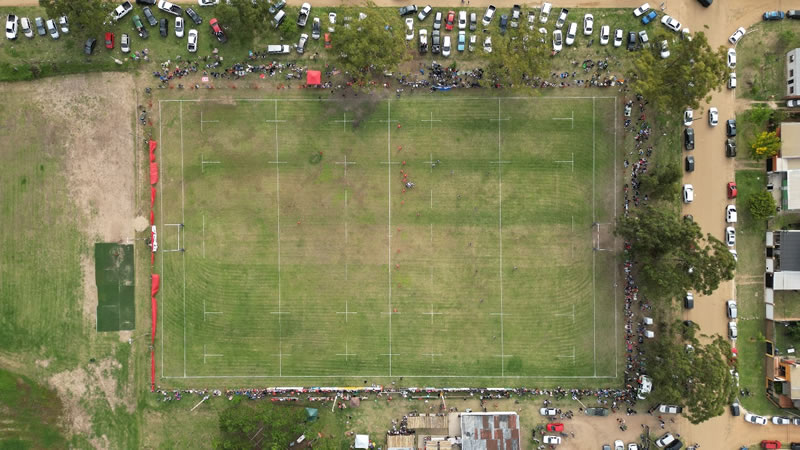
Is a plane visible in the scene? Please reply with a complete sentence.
No, I find no plane anywhere in the image.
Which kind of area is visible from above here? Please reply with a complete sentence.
The picture captures a sports ground.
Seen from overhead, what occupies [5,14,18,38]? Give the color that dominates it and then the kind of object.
white vehicle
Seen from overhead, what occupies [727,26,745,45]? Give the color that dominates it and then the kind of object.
white car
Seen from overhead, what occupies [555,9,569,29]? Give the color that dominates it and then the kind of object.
white vehicle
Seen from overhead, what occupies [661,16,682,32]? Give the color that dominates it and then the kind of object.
white car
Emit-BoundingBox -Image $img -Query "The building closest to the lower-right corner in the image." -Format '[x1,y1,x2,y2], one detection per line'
[766,362,800,412]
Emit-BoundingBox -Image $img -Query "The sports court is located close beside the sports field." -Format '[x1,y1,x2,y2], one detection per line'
[95,243,134,331]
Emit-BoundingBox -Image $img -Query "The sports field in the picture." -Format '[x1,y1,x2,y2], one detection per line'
[157,95,621,382]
